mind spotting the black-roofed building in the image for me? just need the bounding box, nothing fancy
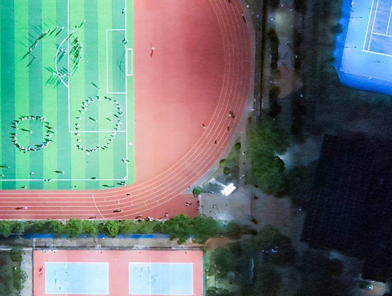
[292,133,392,284]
